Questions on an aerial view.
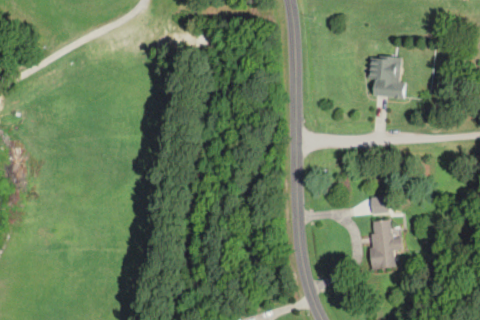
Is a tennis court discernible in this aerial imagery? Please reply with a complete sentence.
No, I can see no tennis court in this picture.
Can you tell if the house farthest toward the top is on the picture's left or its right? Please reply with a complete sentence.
The house farthest toward the top appears in the right half of the scene.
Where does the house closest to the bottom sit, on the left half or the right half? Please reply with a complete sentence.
The house closest to the bottom appears in the right half of the scene.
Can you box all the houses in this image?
[369,56,409,100]
[369,218,404,270]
